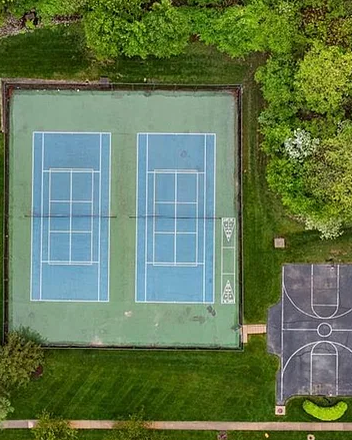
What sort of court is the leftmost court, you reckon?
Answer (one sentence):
From above, the leftmost court can be identified as a tennis court.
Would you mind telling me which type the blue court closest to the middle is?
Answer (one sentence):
Specifically, the blue court closest to the middle is a tennis court.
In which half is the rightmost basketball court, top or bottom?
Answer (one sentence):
The rightmost basketball court sits in the bottom half of the picture.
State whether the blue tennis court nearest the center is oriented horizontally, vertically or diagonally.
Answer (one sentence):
What the image shows is the blue tennis court nearest the center lying vertically.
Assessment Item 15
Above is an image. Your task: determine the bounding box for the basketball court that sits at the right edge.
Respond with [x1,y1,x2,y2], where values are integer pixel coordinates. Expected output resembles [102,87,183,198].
[282,265,352,401]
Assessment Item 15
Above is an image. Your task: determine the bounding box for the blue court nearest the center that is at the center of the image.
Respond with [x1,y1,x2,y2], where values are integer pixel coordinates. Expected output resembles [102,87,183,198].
[136,134,222,303]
